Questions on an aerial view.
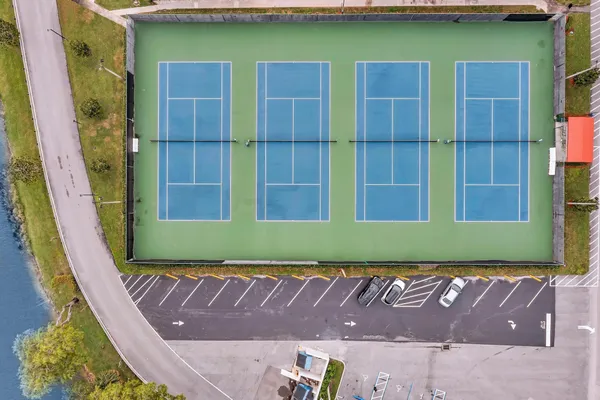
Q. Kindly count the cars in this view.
3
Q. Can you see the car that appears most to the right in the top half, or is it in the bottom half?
bottom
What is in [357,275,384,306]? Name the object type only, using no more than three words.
car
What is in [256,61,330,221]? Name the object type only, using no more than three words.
tennis court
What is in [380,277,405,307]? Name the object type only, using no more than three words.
car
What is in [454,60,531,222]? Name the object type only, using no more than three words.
tennis court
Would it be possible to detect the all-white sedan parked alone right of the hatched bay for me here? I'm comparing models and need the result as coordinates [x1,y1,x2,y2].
[438,276,465,307]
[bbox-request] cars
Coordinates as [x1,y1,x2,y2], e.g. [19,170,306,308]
[357,275,384,306]
[438,276,465,307]
[380,277,405,307]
